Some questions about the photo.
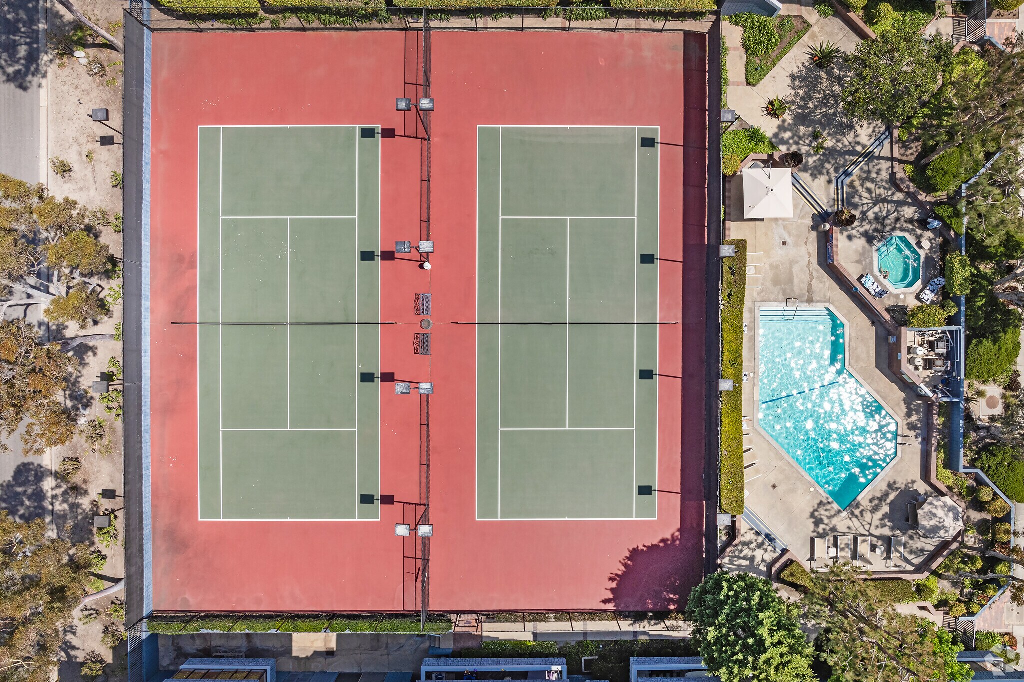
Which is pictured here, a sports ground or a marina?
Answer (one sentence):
The area seen from above is a sports ground.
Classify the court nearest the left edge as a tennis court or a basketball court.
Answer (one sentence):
The court nearest the left edge can be classified as a tennis court.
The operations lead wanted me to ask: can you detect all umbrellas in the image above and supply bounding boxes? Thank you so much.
[917,495,992,541]
[742,148,793,219]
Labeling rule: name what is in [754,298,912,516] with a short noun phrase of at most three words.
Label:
swimming pool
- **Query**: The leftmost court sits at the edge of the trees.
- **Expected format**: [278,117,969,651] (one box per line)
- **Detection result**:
[151,30,431,613]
